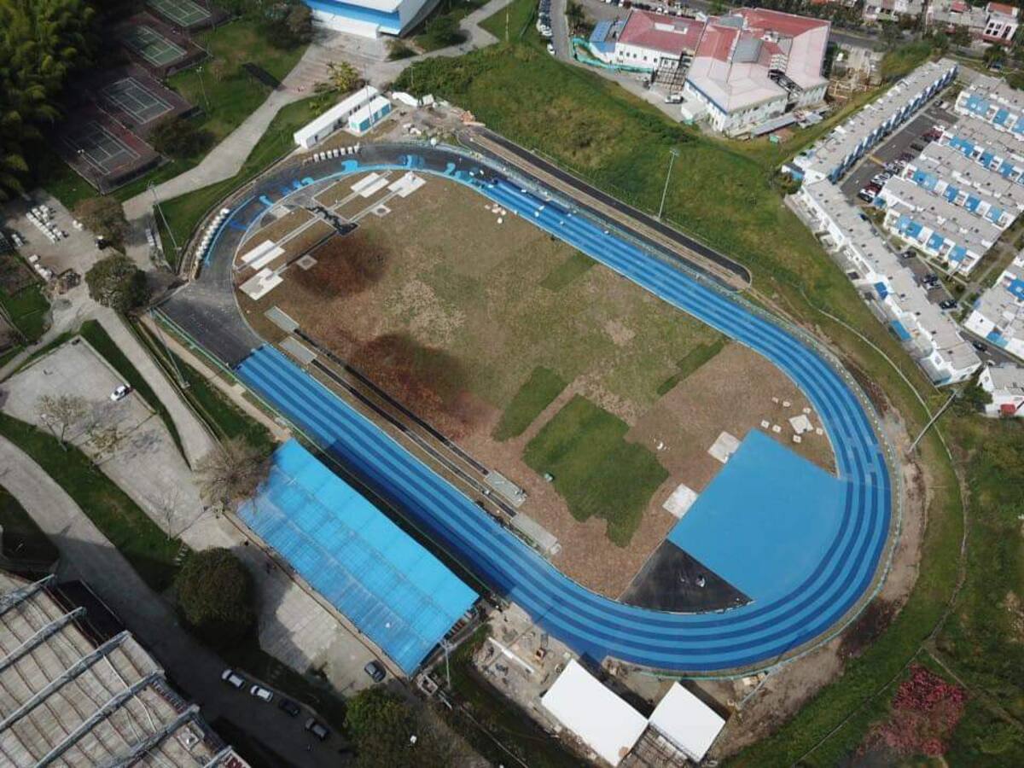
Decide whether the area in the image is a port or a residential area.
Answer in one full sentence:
It's a residential area.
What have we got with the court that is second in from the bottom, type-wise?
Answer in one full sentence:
I'd identify the court that is second in from the bottom as a tennis court.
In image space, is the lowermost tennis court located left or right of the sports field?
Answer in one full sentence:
In the image, the lowermost tennis court sits on the left side of the sports field.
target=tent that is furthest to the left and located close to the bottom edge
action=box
[541,658,648,768]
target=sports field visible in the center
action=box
[168,132,904,702]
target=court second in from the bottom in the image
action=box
[86,62,193,139]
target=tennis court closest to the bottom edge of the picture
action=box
[45,108,164,191]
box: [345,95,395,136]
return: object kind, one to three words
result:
building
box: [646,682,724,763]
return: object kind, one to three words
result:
tent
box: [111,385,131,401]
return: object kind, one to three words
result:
car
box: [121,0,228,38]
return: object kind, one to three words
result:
tennis court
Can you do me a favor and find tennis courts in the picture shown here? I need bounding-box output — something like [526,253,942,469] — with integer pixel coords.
[45,108,164,191]
[121,0,228,38]
[86,62,193,139]
[99,13,203,81]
